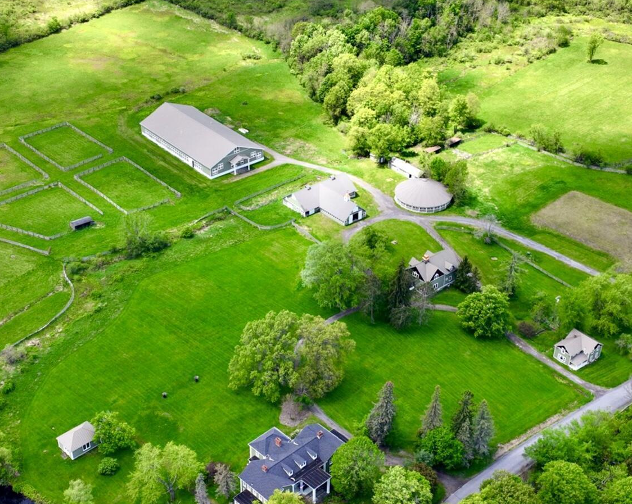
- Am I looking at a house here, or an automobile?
house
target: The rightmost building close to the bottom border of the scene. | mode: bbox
[229,424,344,504]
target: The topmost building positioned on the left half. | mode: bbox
[136,104,265,179]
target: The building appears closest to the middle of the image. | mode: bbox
[282,173,368,226]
